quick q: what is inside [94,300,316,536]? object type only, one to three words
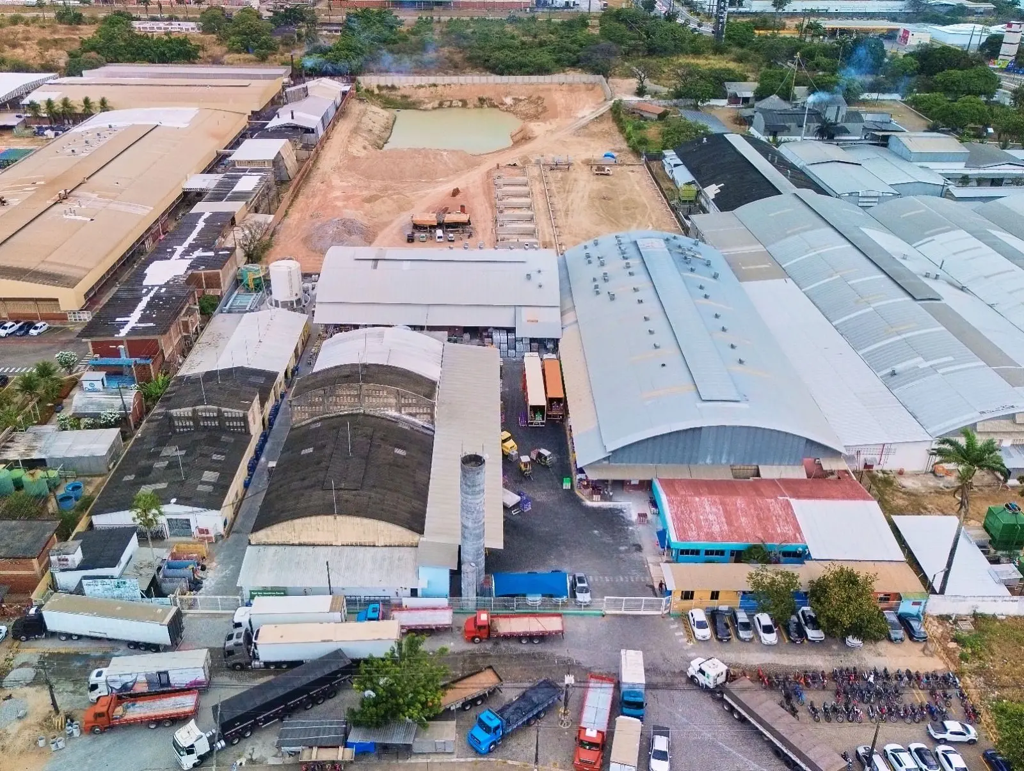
shed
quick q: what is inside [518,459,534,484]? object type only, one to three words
work vehicle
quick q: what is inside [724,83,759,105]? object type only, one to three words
house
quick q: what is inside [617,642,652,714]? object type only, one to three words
truck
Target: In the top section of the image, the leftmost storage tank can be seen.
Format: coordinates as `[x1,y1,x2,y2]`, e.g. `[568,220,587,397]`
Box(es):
[264,259,306,309]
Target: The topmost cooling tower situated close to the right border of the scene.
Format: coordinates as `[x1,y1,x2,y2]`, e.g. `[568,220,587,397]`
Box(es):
[978,499,1024,548]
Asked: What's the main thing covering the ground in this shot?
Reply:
buildings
